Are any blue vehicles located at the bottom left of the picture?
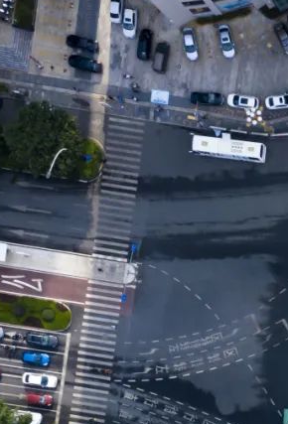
Yes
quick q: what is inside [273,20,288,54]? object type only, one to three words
car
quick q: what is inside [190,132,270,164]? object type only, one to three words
bus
